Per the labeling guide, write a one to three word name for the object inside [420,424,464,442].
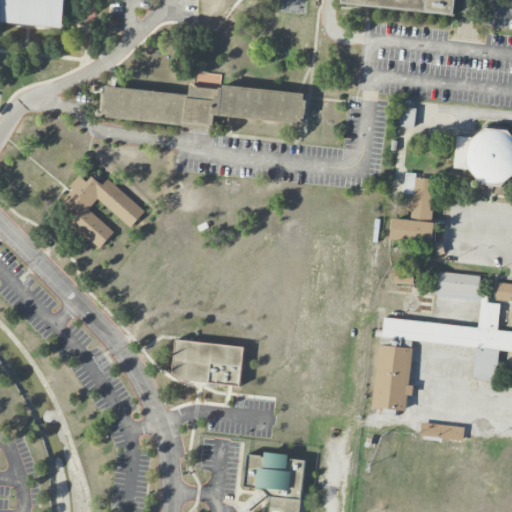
shed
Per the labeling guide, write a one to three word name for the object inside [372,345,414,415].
building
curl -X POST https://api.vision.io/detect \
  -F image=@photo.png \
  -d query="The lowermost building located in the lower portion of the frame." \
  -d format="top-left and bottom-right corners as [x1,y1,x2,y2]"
[244,451,306,512]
